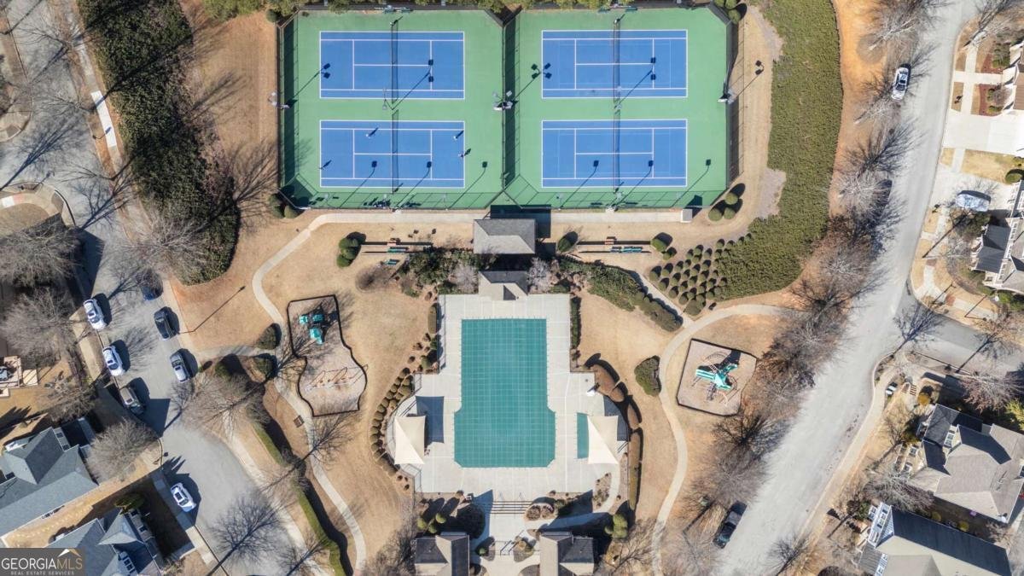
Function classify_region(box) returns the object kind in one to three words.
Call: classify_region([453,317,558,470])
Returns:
swimming pool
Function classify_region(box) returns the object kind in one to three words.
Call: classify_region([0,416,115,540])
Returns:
house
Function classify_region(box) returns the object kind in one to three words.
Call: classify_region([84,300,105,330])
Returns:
car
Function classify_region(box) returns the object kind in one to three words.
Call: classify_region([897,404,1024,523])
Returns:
house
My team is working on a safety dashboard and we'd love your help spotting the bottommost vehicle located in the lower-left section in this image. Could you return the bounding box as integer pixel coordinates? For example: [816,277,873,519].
[171,482,193,513]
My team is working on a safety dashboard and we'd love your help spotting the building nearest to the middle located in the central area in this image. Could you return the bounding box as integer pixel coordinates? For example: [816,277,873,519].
[479,271,528,301]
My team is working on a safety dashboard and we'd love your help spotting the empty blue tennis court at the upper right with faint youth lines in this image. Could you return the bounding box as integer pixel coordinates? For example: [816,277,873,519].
[504,7,727,109]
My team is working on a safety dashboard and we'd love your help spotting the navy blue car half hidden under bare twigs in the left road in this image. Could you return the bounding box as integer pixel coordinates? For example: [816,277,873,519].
[141,270,160,300]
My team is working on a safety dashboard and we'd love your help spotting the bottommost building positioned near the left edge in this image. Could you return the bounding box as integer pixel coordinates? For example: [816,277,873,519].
[38,505,168,576]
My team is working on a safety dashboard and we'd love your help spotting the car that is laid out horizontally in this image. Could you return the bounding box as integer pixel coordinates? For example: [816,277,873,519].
[955,192,991,209]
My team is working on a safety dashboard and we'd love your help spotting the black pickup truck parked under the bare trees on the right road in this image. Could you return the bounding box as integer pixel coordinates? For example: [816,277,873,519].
[716,507,744,547]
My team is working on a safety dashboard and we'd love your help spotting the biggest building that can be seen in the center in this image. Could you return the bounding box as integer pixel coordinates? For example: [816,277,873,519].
[473,218,536,255]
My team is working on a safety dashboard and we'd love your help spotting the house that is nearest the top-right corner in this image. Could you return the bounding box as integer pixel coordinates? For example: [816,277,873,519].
[990,42,1024,117]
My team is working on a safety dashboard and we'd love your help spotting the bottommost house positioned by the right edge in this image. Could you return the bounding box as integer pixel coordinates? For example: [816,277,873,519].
[850,497,1018,576]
